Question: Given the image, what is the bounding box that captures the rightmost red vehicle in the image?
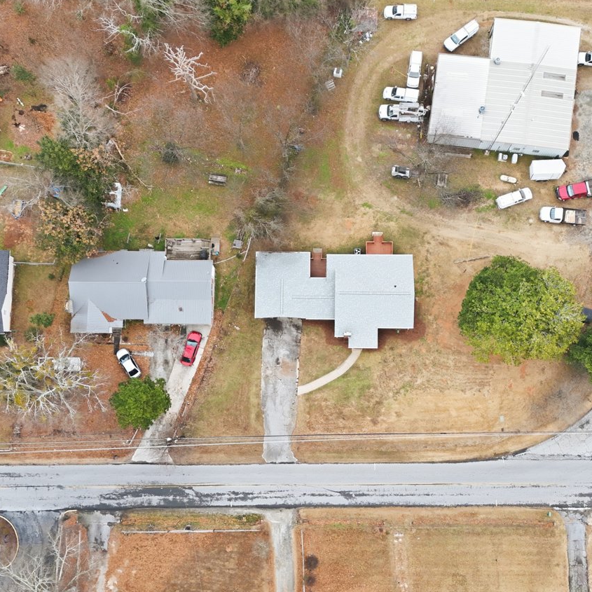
[554,179,592,200]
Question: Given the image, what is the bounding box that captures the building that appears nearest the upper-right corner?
[427,18,581,158]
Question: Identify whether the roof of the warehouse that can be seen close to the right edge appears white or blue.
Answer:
white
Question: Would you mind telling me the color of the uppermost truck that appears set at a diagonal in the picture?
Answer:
white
